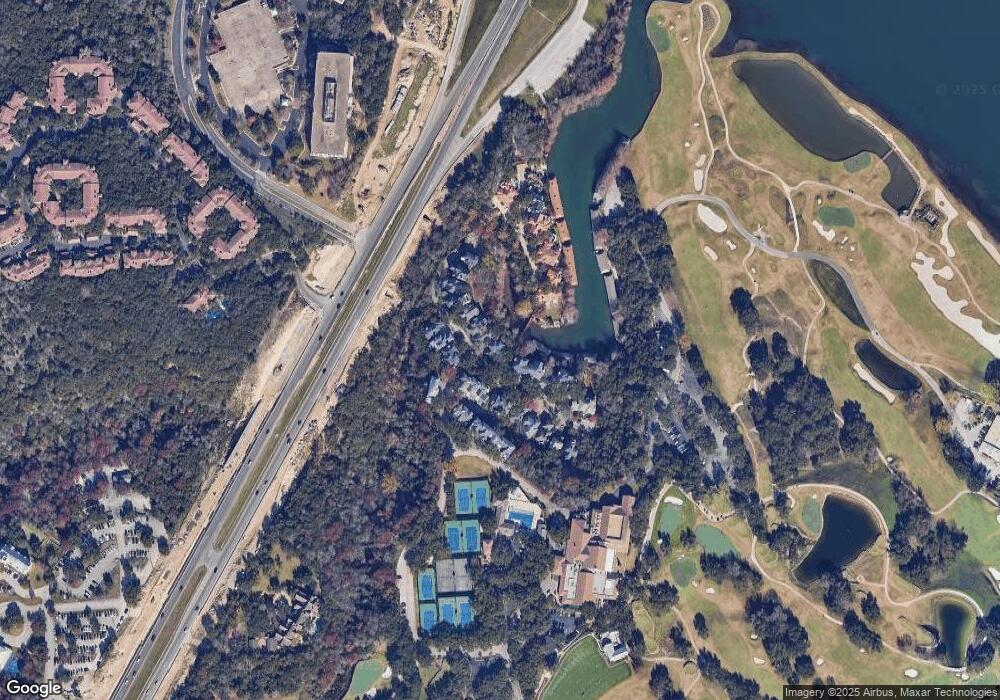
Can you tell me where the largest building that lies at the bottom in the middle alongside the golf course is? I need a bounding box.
[552,497,635,604]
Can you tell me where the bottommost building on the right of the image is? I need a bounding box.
[600,631,629,659]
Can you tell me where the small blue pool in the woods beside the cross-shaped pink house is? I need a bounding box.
[204,301,228,321]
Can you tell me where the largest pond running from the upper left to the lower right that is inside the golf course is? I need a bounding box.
[733,60,919,218]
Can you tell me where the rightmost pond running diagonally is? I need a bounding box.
[854,339,922,391]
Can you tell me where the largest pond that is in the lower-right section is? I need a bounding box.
[794,492,882,582]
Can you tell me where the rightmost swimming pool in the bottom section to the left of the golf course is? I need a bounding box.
[499,487,540,530]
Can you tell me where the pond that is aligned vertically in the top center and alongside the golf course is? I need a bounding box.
[527,0,661,356]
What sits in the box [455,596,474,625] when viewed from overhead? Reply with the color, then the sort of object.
blue tennis court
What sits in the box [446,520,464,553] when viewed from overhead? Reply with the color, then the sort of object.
blue tennis court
